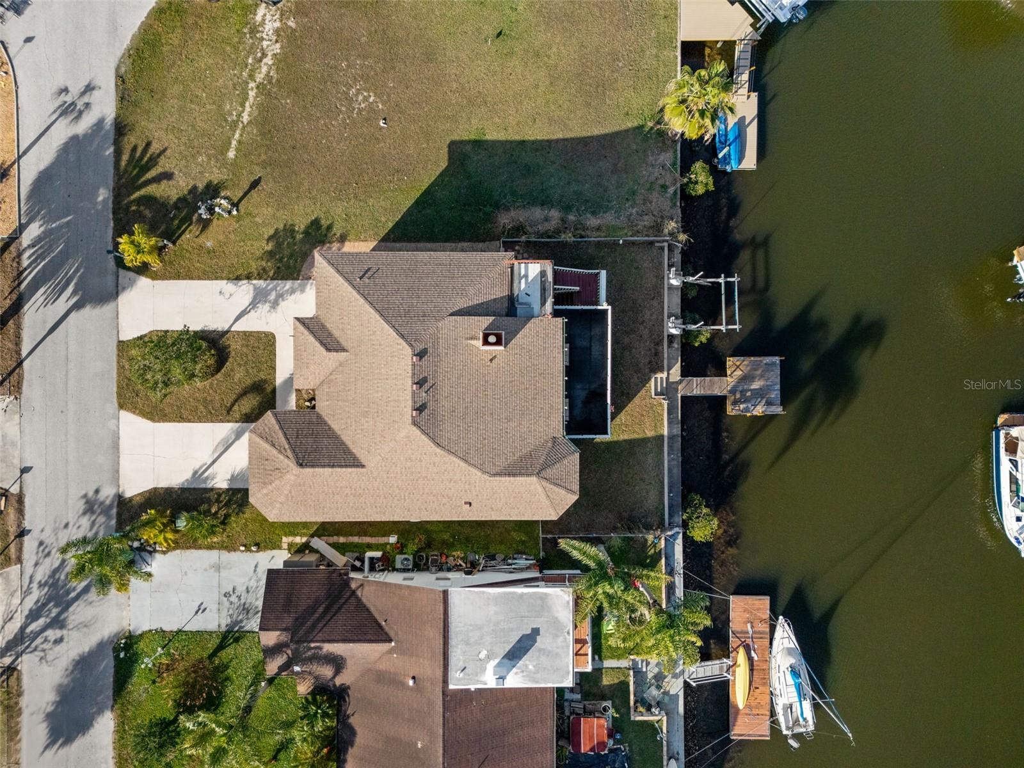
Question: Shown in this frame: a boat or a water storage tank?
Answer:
boat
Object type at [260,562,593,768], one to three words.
house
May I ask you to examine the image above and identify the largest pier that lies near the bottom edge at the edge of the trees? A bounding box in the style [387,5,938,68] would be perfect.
[727,592,770,740]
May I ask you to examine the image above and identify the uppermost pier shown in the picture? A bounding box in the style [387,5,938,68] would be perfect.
[683,0,760,44]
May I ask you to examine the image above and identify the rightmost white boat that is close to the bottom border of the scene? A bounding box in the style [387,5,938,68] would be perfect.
[765,614,872,756]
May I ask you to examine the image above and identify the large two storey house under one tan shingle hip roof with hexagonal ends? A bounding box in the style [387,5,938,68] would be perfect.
[247,249,614,522]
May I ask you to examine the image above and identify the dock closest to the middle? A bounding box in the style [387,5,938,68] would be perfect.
[683,356,786,416]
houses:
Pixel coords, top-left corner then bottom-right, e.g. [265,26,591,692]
[260,562,593,768]
[247,249,614,522]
